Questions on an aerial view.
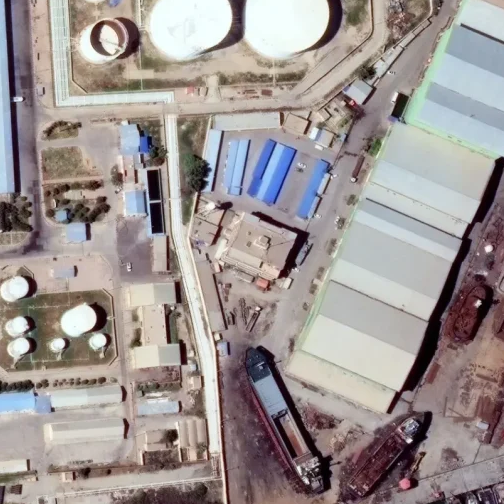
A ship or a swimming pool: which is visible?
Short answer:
ship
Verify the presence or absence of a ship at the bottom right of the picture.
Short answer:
Yes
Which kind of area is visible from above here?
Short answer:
industrial area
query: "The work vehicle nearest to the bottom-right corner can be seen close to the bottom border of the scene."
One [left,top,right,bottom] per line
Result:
[406,450,427,479]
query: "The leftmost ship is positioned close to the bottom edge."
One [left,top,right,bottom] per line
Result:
[245,346,328,495]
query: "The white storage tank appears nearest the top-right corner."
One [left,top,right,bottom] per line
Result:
[242,0,330,61]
